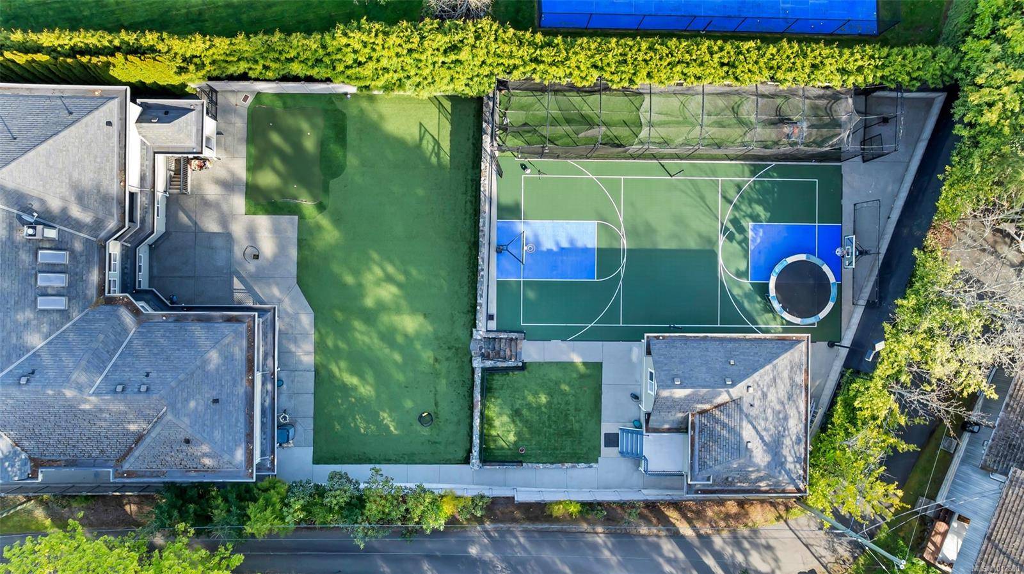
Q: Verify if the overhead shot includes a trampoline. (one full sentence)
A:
Yes, a trampoline is visible in the scene.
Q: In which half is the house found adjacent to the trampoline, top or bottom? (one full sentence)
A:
You can find the house found adjacent to the trampoline in the bottom half.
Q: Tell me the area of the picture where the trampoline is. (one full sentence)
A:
The trampoline is located in the right region of the scene.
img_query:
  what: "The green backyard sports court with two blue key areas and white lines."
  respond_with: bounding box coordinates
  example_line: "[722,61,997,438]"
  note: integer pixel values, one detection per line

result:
[497,160,841,341]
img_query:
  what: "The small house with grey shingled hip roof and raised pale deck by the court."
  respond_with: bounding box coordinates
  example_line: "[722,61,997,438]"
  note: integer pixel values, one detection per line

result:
[619,334,810,497]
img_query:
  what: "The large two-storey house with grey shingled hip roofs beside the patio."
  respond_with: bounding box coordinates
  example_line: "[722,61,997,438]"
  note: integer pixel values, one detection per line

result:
[0,83,286,482]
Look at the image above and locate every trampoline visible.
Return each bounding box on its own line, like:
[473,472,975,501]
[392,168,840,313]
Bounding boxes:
[765,255,837,325]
